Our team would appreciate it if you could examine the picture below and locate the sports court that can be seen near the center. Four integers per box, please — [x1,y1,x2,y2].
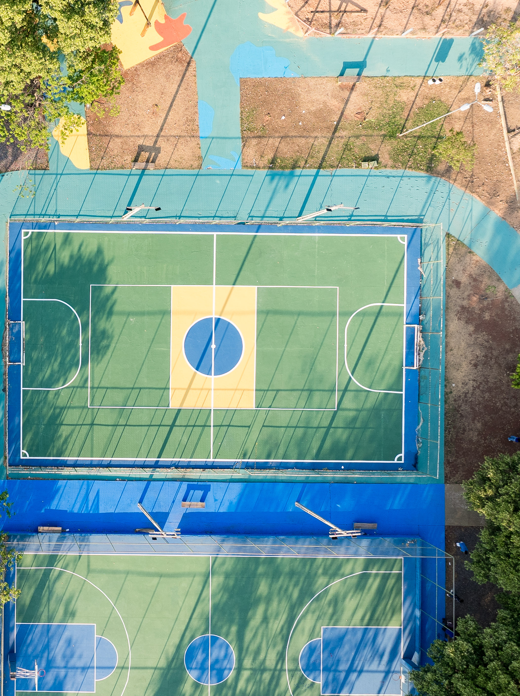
[9,223,421,471]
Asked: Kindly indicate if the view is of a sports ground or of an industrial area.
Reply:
sports ground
